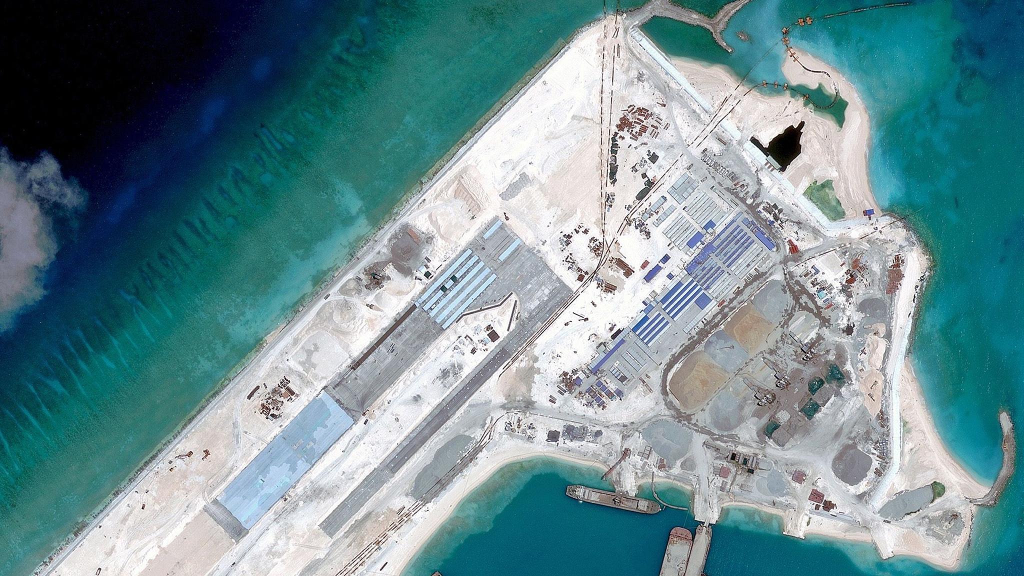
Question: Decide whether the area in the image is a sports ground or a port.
port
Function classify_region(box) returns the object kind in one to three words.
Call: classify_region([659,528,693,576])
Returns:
ship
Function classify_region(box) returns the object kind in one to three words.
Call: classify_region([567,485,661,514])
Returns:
ship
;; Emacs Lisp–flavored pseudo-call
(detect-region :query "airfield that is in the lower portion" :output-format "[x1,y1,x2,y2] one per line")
[203,217,573,541]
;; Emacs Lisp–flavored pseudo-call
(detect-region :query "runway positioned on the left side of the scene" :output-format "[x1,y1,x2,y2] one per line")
[205,217,528,540]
